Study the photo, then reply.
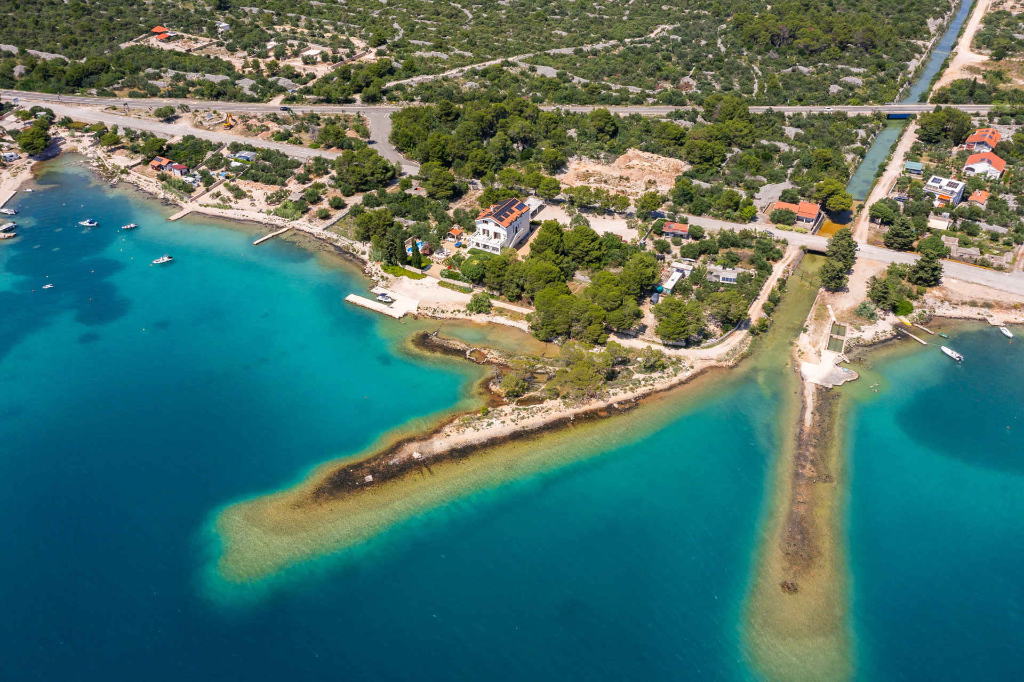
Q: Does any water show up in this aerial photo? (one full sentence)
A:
Yes, water shows up in the scene.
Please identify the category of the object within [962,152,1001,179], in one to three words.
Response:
house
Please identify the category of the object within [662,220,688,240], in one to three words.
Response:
building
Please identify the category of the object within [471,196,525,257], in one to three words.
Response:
house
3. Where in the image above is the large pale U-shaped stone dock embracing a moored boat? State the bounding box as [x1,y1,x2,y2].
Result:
[345,286,420,321]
